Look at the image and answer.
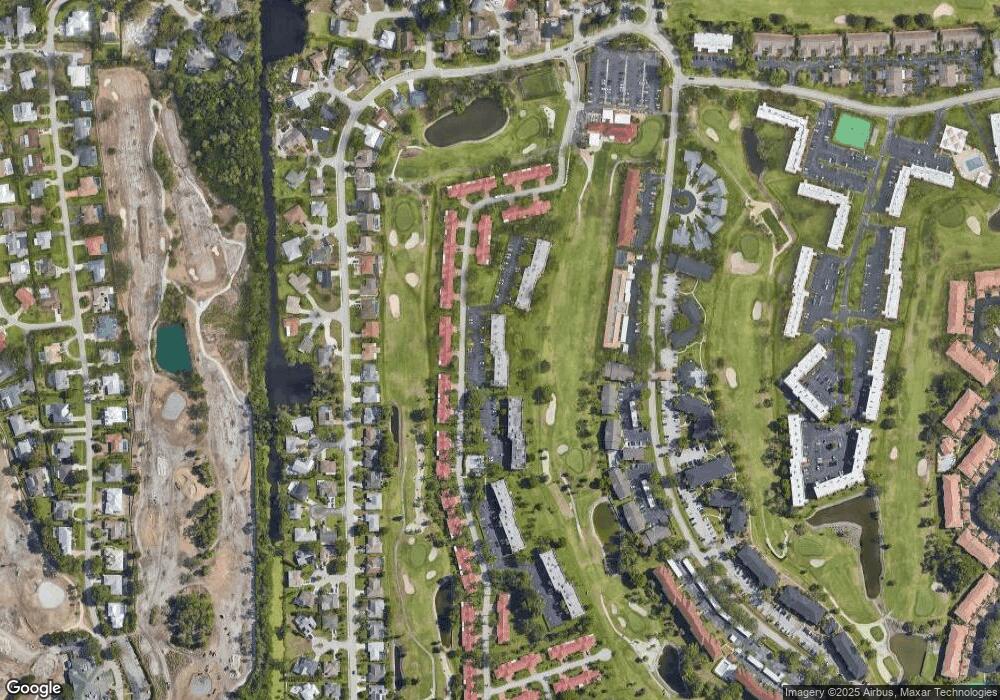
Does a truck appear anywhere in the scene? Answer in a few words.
No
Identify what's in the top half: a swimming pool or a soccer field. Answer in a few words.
swimming pool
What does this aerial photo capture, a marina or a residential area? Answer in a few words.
residential area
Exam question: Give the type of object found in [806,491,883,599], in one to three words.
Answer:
pond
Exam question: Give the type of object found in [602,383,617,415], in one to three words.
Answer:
building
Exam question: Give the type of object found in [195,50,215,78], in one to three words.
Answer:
house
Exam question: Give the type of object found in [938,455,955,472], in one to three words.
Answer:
swimming pool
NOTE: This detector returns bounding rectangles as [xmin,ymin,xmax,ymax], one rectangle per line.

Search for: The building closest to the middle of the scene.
[490,313,510,387]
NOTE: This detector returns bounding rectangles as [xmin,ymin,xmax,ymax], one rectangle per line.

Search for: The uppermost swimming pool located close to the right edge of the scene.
[954,146,992,181]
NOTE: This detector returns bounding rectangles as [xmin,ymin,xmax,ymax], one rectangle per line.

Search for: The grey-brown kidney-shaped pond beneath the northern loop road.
[424,97,508,147]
